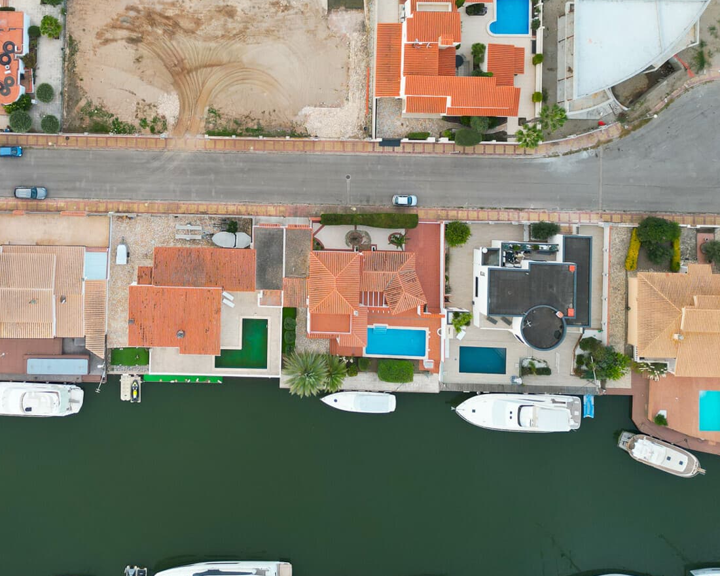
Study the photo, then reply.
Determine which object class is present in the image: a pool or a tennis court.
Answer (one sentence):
I can see a pool in this picture.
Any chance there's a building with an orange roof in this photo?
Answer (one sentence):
Yes, there's a building with an orange roof here.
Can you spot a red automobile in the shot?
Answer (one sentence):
No, the scene contains no red automobile.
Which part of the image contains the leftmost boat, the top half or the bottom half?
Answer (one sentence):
Seen from above, the leftmost boat lies in the bottom half of the view.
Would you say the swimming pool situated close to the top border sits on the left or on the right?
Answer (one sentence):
You can find the swimming pool situated close to the top border on the right side of the picture.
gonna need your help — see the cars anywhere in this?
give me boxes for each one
[391,192,416,208]
[15,183,48,200]
[0,144,25,159]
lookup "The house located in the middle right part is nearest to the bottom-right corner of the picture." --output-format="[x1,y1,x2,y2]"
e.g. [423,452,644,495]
[623,263,720,377]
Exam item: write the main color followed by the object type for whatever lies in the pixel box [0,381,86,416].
white boat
